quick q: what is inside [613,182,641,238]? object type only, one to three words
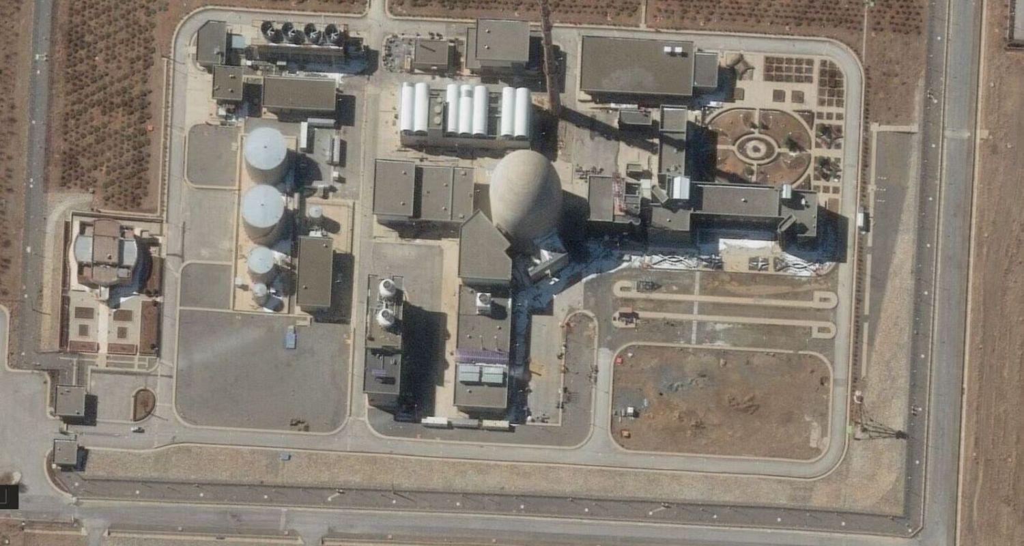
building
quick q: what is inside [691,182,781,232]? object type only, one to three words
building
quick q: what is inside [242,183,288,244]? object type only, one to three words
storage tank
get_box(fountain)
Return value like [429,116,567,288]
[747,138,766,158]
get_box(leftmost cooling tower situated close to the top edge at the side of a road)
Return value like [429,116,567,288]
[252,18,350,62]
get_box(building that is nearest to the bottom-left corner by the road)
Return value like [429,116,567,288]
[54,439,79,470]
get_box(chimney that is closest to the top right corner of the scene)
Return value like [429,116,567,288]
[541,0,563,121]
